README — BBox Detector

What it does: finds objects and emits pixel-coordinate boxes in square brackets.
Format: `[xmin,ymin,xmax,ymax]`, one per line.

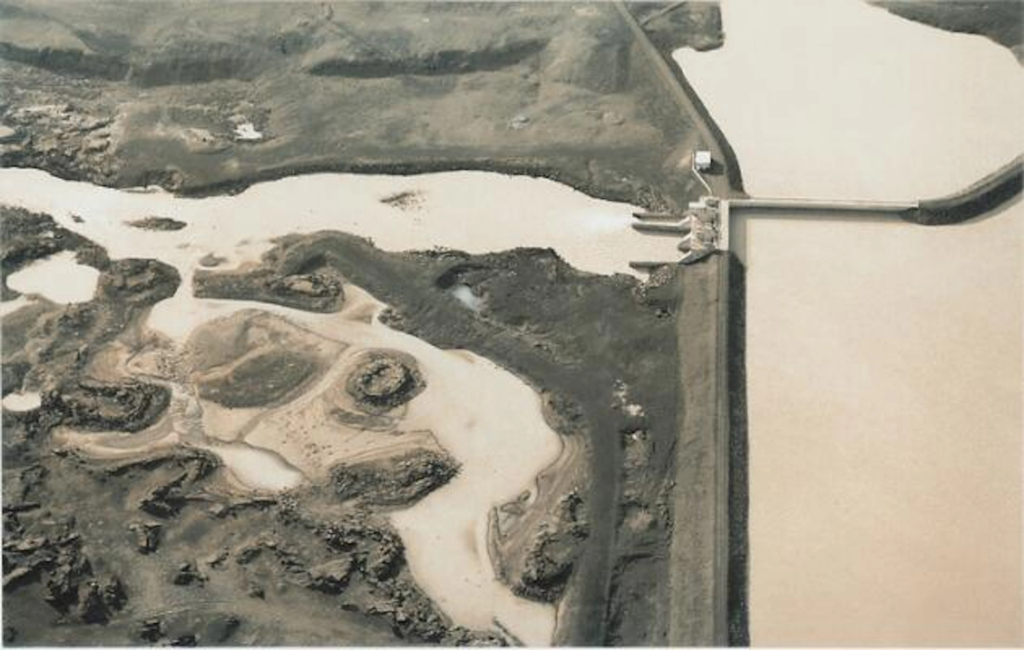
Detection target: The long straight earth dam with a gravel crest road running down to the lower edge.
[664,247,755,650]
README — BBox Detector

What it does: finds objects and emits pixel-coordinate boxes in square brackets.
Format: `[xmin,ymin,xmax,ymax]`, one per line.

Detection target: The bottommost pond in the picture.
[208,444,303,490]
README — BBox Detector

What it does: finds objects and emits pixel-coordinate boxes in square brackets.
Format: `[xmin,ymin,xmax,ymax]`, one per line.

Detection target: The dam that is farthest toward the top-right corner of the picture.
[609,0,752,212]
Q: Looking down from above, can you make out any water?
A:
Yes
